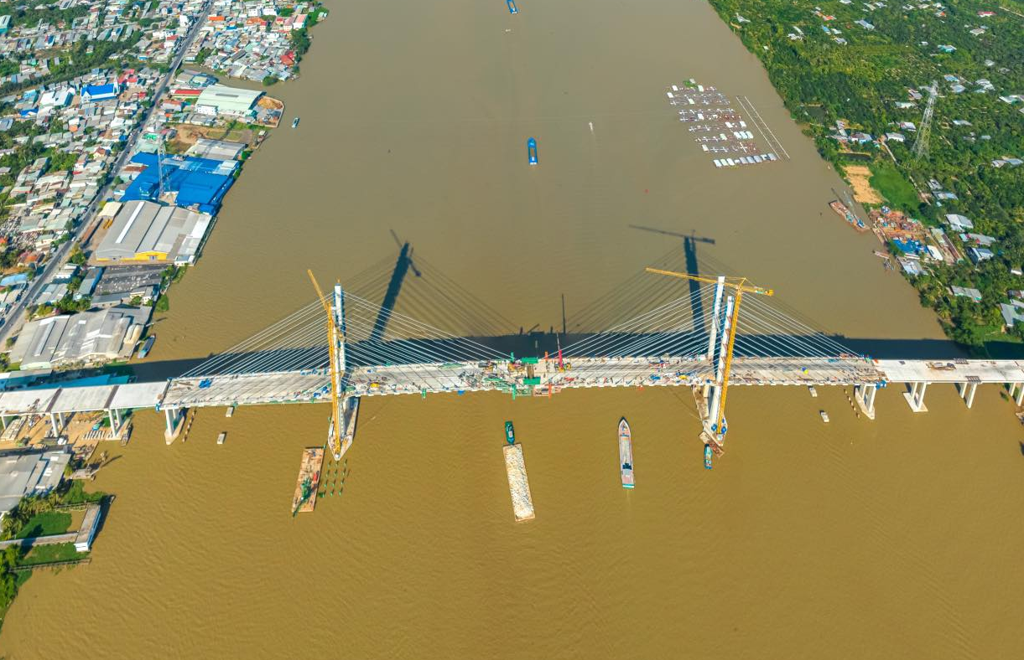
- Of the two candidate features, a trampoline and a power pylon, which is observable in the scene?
power pylon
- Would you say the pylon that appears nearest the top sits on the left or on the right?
right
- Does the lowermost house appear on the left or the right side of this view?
left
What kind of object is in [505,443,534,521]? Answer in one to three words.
ship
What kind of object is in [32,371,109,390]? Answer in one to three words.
shed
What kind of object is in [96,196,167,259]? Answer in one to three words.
building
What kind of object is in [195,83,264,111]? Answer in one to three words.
building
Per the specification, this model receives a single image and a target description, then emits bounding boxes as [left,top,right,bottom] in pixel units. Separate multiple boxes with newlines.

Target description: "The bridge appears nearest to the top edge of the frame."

[0,274,1024,464]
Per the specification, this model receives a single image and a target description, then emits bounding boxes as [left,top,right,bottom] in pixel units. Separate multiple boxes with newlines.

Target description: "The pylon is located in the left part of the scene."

[151,137,169,197]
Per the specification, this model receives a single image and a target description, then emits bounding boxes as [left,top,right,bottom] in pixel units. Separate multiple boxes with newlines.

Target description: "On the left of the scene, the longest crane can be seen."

[302,266,342,448]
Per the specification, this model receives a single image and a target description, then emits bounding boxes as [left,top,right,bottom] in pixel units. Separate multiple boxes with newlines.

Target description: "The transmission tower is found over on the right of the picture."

[912,80,941,160]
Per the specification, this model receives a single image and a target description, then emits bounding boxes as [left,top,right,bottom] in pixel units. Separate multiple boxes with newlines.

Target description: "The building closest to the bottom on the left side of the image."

[75,504,105,550]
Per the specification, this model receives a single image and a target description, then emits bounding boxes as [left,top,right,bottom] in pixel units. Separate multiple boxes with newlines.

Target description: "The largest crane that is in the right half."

[647,265,773,437]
